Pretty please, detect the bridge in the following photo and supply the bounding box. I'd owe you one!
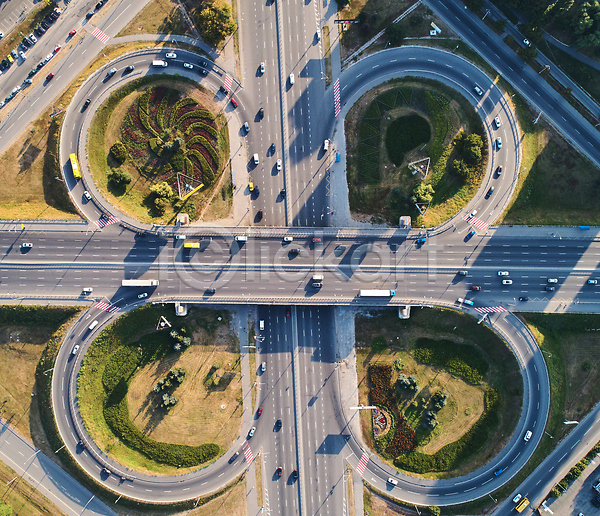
[156,225,434,306]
